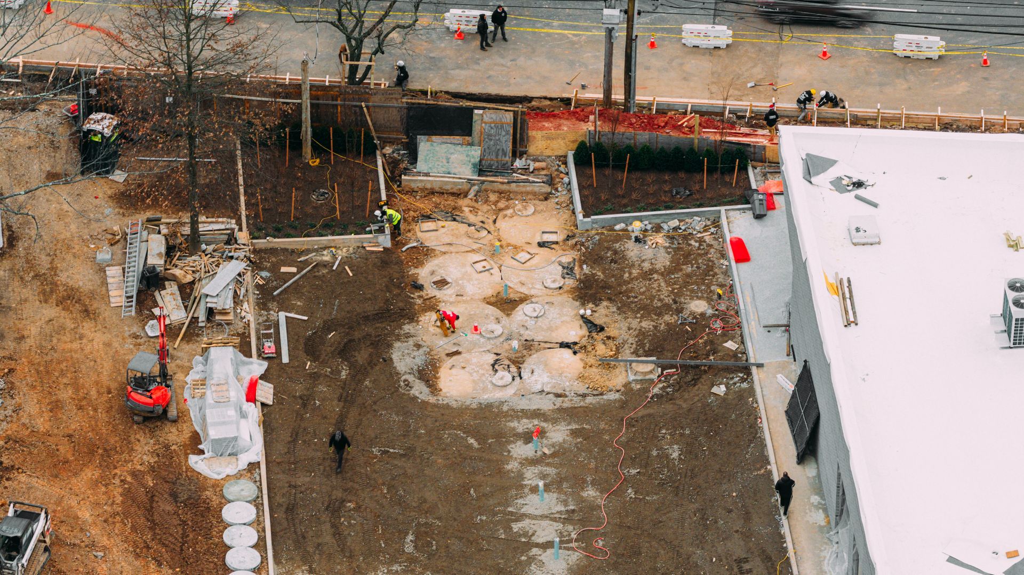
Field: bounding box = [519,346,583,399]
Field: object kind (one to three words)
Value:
storage tank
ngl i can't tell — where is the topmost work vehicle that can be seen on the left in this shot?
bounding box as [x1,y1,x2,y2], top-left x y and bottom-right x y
[123,308,183,425]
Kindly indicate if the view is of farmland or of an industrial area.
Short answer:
industrial area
